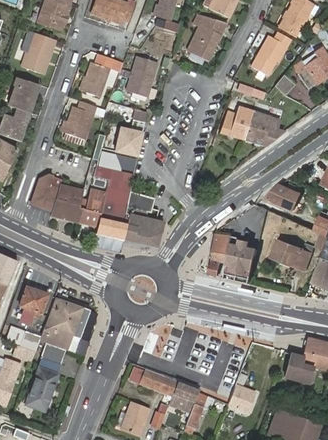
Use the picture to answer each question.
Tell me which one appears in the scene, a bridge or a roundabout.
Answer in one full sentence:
Looking from above, you can make out a roundabout.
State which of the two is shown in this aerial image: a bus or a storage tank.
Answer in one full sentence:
There is a bus in the scene.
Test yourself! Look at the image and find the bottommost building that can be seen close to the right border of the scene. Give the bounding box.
[268,410,322,440]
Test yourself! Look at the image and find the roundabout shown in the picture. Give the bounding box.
[100,253,180,324]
